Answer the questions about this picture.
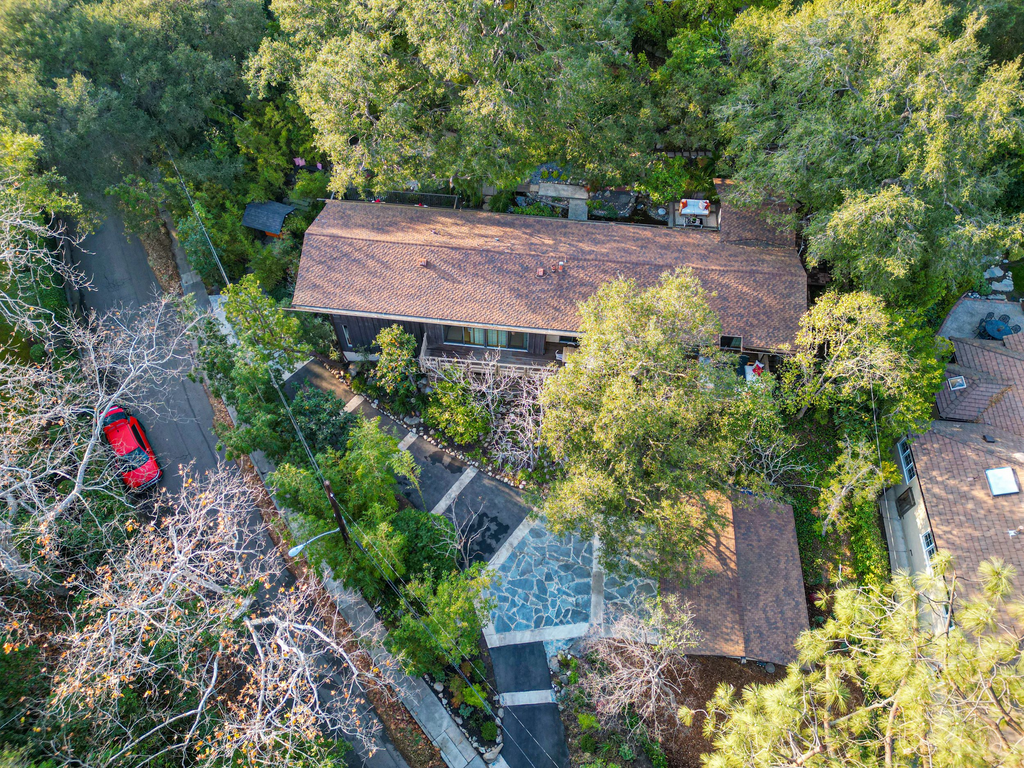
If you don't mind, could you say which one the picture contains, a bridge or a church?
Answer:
bridge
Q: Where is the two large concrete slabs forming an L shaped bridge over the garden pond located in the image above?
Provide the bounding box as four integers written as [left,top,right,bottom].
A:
[538,180,589,220]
